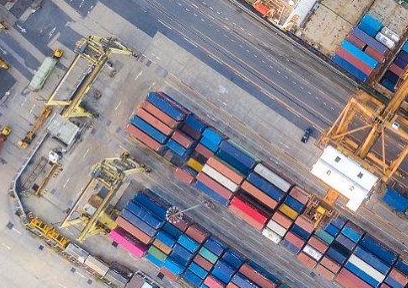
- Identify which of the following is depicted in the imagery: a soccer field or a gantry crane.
gantry crane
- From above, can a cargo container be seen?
Yes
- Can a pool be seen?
No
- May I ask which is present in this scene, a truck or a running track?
truck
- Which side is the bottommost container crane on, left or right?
left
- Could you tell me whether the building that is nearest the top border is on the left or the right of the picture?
left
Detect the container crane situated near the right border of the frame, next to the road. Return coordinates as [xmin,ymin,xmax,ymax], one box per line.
[300,60,408,231]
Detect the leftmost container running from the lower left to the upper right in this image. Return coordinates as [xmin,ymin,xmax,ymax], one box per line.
[30,53,62,89]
